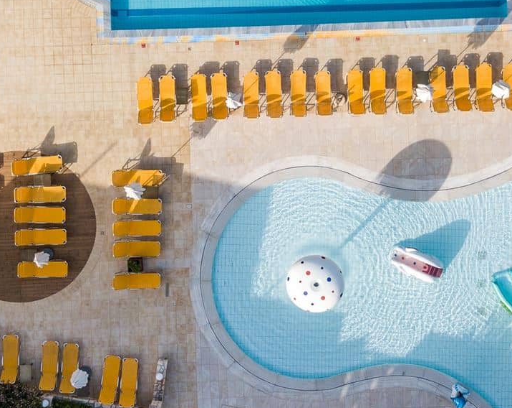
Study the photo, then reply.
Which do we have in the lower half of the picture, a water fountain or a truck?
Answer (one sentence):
There is a water fountain in the lower half of the picture.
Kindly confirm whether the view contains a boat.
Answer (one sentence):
No, I find no boat anywhere in the image.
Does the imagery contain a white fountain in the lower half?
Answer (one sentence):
Yes, looking in the lower half, one can make out a white fountain.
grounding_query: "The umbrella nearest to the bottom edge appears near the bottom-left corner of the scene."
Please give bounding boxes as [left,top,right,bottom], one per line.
[72,362,96,384]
